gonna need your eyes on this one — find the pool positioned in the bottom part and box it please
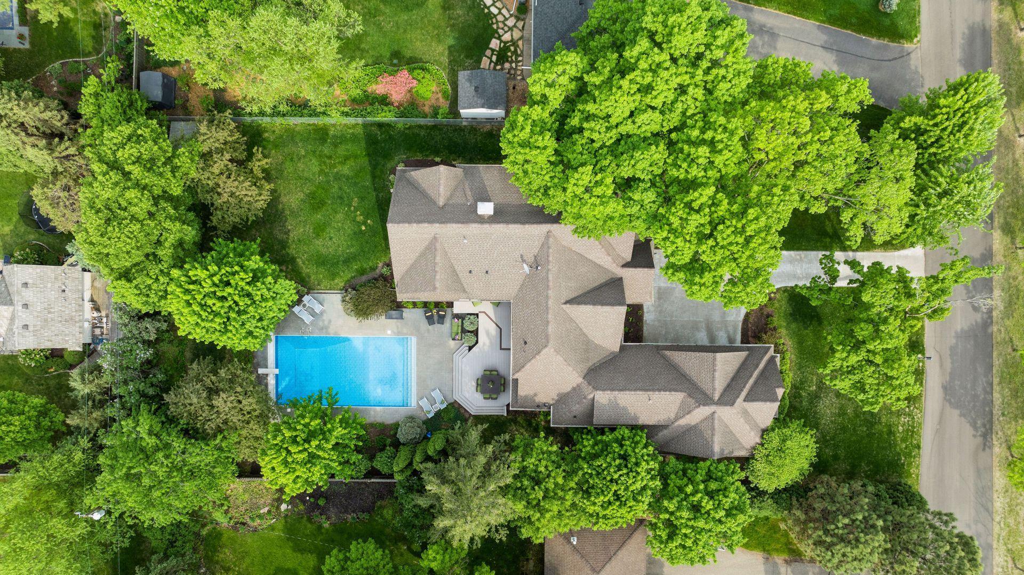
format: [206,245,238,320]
[268,334,416,409]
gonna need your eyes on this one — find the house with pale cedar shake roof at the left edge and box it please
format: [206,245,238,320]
[0,265,98,351]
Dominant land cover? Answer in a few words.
trees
